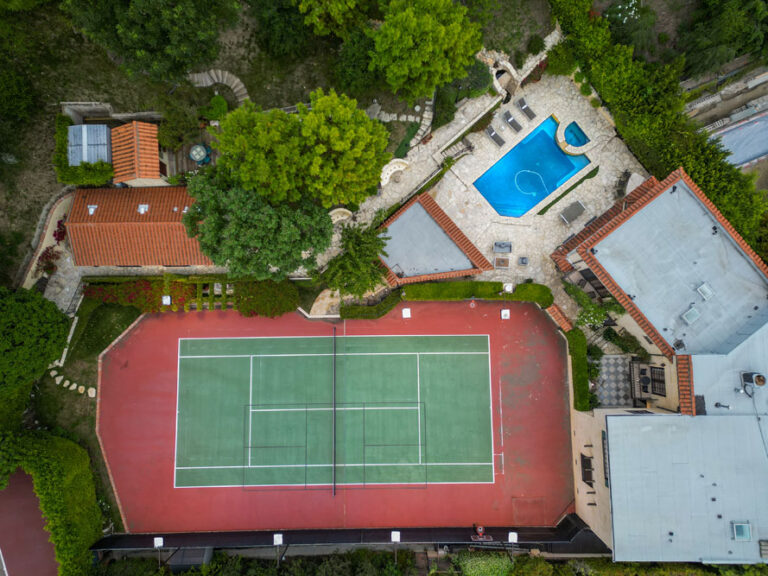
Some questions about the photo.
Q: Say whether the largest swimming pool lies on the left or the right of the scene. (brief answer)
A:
right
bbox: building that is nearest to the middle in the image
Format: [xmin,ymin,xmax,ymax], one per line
[375,191,494,286]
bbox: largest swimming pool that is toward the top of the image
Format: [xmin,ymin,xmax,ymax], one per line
[470,111,596,224]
